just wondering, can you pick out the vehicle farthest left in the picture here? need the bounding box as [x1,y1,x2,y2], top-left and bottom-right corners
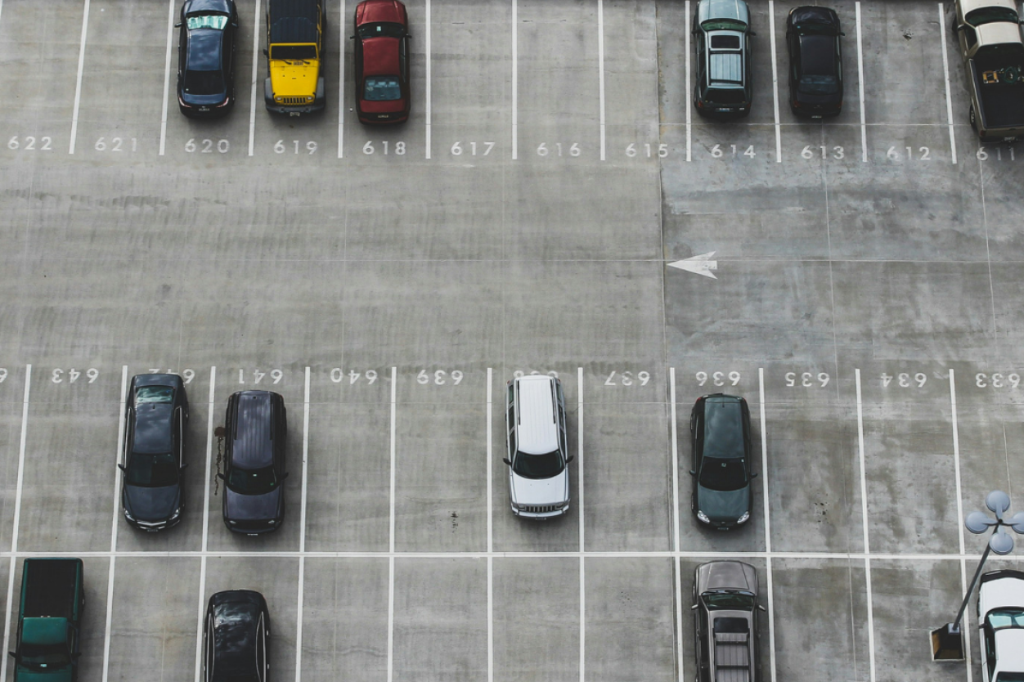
[6,559,86,682]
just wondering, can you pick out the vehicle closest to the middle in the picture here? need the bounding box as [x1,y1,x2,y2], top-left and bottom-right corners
[499,377,578,524]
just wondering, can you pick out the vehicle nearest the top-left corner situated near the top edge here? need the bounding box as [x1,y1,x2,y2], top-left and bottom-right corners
[171,0,245,119]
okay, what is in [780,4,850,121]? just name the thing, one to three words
car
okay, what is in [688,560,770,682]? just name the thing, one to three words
car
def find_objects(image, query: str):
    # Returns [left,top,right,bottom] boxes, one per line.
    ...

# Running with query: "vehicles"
[263,0,328,116]
[687,0,760,119]
[685,393,762,535]
[113,372,193,534]
[688,560,770,682]
[948,0,1024,145]
[780,4,850,121]
[499,377,578,524]
[214,390,293,536]
[201,589,272,682]
[975,568,1024,682]
[171,0,245,119]
[6,559,86,682]
[348,0,417,123]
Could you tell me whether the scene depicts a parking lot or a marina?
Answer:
parking lot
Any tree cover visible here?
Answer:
No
